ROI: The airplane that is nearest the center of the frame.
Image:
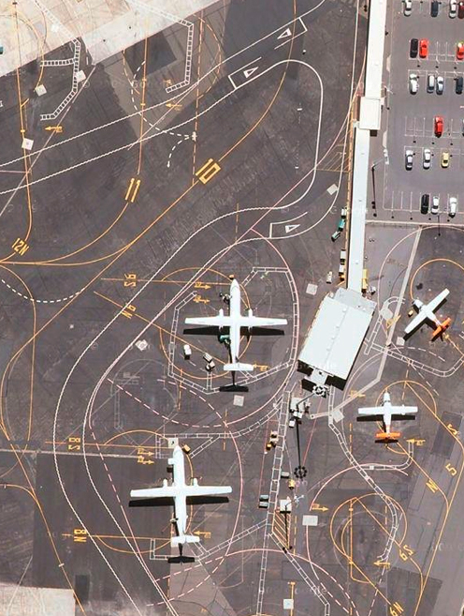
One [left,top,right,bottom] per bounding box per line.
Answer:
[185,279,286,371]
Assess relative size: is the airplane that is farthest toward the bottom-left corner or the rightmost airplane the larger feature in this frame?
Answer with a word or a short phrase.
the airplane that is farthest toward the bottom-left corner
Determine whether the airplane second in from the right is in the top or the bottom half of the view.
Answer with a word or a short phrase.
bottom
